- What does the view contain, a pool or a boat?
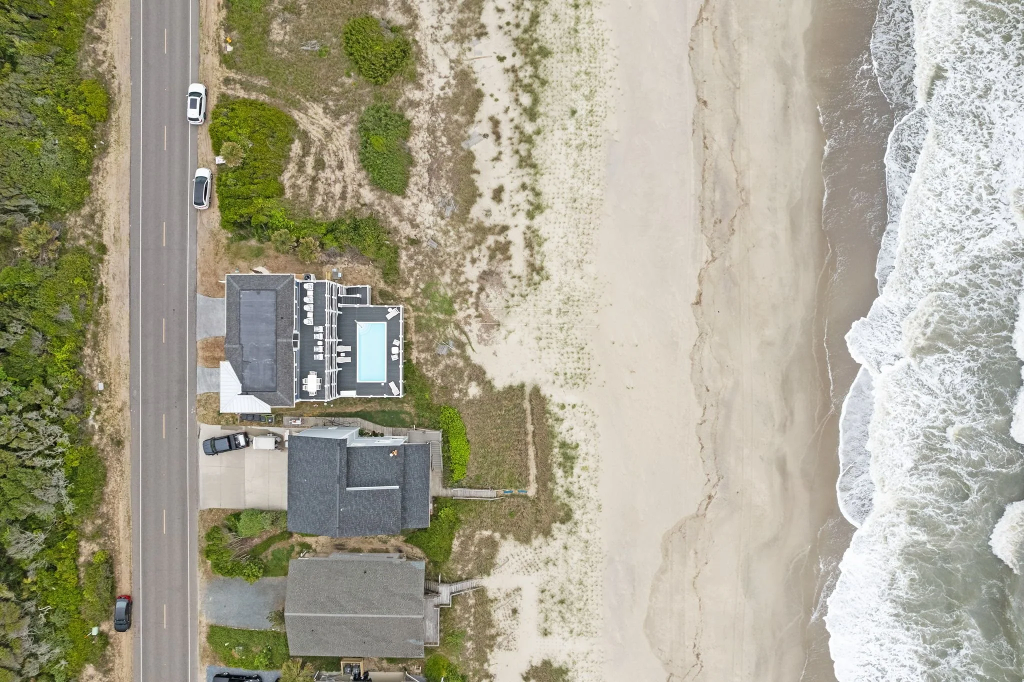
pool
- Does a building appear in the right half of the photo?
No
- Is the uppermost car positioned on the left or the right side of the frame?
left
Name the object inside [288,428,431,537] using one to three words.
house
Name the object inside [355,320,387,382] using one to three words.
swimming pool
